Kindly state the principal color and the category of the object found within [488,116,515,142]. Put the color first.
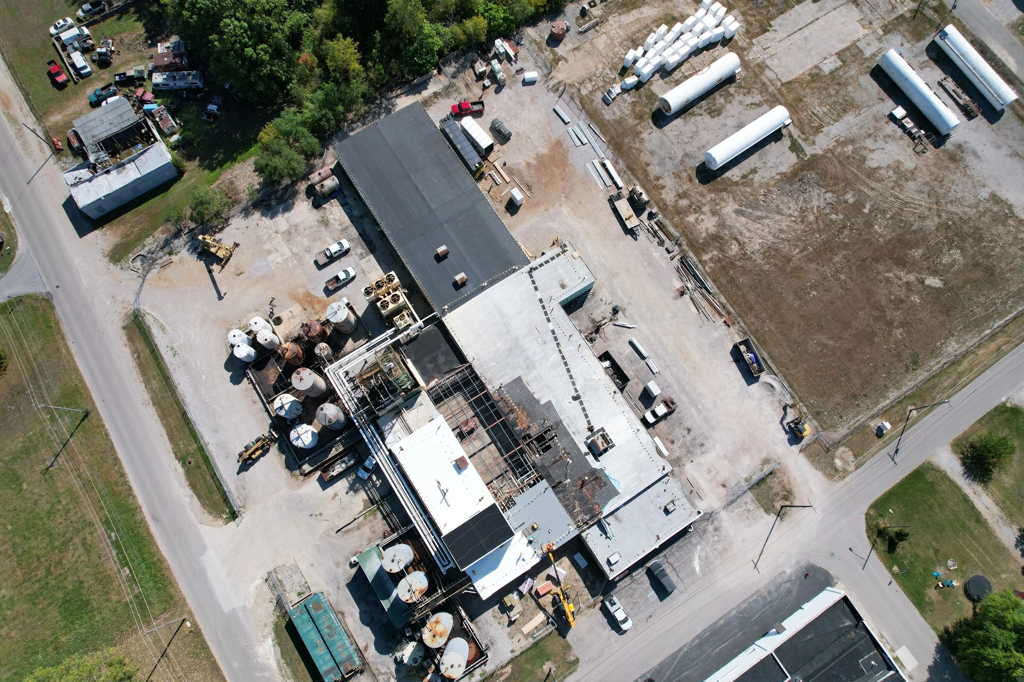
gray car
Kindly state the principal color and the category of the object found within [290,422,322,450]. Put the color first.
white storage tank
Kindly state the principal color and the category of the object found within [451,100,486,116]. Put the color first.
red vehicle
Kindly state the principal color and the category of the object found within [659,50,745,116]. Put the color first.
white storage tank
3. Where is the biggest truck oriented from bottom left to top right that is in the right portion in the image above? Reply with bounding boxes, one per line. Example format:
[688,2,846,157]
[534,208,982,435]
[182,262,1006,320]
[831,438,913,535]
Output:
[645,394,682,425]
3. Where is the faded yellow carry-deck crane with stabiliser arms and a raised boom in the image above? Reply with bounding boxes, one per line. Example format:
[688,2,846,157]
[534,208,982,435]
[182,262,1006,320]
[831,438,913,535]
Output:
[202,228,249,267]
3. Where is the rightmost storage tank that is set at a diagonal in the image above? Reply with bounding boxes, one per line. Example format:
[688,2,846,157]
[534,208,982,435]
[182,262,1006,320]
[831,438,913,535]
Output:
[933,23,1020,112]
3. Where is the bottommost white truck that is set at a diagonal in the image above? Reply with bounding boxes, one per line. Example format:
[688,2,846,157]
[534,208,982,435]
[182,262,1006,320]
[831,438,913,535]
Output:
[605,595,635,632]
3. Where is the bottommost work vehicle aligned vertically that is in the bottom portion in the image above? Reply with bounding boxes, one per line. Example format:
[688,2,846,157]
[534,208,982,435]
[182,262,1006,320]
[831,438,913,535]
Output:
[550,546,580,626]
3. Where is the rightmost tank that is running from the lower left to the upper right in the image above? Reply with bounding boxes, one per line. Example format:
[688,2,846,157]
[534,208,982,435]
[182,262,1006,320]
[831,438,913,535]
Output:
[704,102,794,170]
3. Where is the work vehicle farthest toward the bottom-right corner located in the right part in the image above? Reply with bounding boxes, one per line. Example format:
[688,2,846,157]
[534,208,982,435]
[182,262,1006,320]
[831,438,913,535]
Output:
[779,407,815,444]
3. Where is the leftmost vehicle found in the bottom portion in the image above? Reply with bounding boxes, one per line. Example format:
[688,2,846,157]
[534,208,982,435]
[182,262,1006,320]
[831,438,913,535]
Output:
[241,424,287,463]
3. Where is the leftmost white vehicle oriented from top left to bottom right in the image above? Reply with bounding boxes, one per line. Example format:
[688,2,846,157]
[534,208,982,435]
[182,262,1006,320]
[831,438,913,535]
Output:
[69,51,95,79]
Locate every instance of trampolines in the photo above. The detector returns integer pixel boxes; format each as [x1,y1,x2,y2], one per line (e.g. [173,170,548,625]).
[963,574,992,601]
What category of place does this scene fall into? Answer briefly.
industrial area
